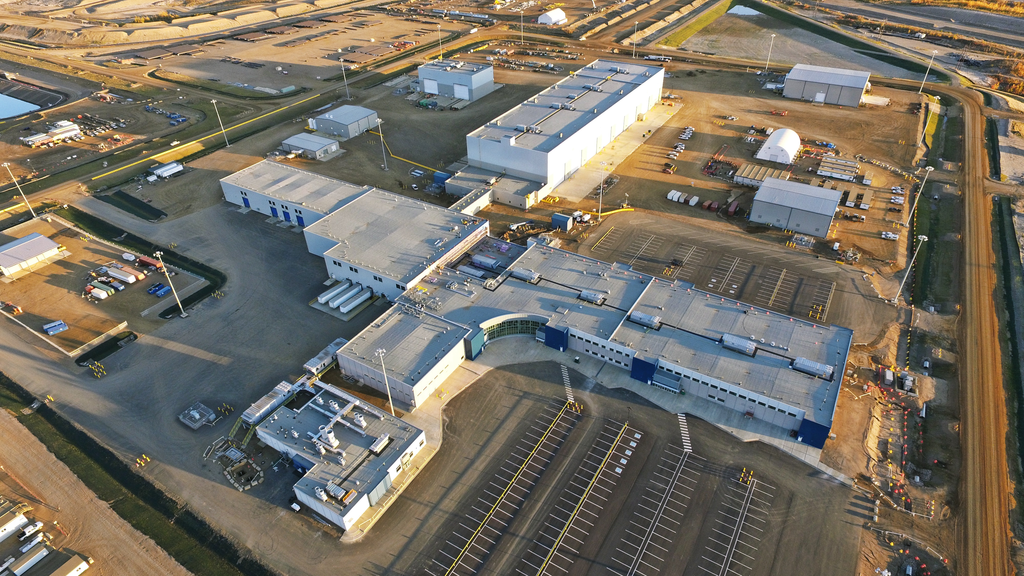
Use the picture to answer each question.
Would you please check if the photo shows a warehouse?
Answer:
Yes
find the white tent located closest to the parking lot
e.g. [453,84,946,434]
[753,127,804,165]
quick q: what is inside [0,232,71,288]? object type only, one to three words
shed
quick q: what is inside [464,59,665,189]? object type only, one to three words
warehouse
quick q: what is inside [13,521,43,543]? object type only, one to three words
truck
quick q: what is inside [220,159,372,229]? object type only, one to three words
building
